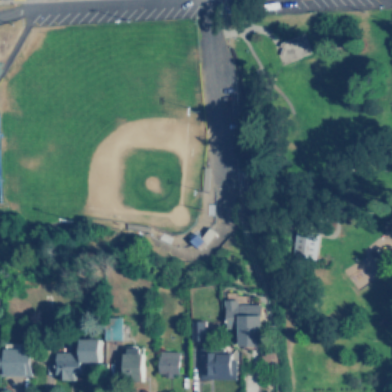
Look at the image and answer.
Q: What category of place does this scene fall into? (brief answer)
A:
sports ground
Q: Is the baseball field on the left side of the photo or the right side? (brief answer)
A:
left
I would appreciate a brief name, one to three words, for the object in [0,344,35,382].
house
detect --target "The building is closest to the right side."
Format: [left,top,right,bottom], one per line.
[296,236,320,261]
